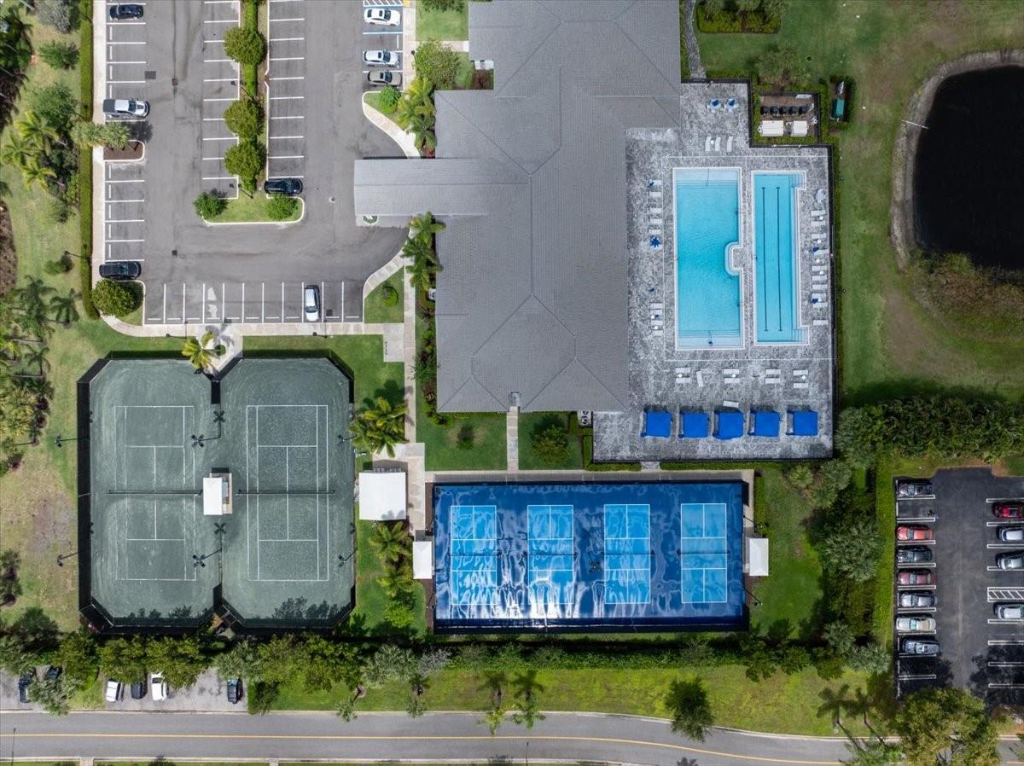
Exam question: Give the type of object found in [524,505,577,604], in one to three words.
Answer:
sports court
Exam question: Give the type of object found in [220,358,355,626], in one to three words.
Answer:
tennis court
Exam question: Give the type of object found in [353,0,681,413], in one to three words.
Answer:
building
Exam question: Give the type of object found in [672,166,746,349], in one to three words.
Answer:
swimming pool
